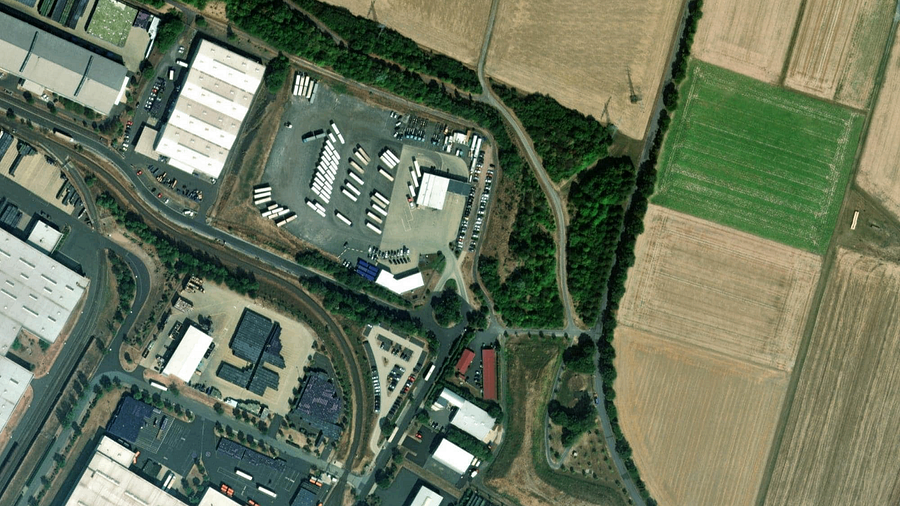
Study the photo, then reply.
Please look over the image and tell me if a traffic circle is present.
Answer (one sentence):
Yes, this view includes a traffic circle.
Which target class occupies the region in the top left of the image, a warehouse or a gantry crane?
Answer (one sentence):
Looking in the top left of the image, you will find a warehouse.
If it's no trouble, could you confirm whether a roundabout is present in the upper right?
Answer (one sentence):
No, I can find no roundabout in the upper right.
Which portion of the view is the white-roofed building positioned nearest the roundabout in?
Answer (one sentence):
The white-roofed building positioned nearest the roundabout is in the center part of the image.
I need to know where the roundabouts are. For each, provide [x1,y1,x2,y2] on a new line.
[422,286,472,334]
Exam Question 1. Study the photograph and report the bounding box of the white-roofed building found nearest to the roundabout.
[375,270,424,295]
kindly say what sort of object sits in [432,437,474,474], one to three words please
building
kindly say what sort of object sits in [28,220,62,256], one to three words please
building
